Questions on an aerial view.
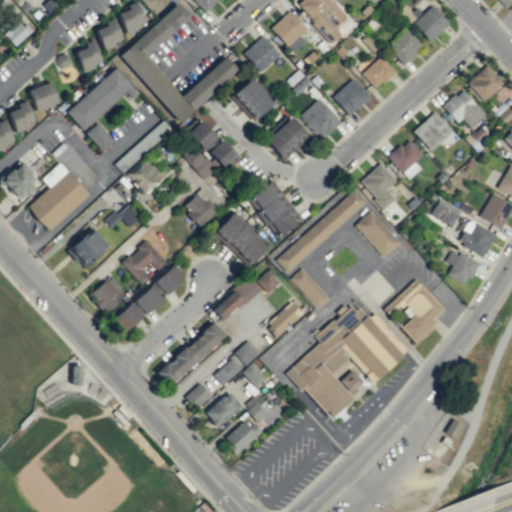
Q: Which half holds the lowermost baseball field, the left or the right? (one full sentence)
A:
The lowermost baseball field sits on the left side.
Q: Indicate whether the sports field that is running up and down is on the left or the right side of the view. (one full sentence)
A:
The sports field that is running up and down sits on the left side.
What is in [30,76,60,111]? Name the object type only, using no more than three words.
building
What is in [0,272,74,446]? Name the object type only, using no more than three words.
sports field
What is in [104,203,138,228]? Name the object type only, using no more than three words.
house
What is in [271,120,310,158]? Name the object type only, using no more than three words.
house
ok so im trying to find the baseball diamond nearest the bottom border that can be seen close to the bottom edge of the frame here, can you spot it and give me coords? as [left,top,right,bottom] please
[0,392,213,512]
